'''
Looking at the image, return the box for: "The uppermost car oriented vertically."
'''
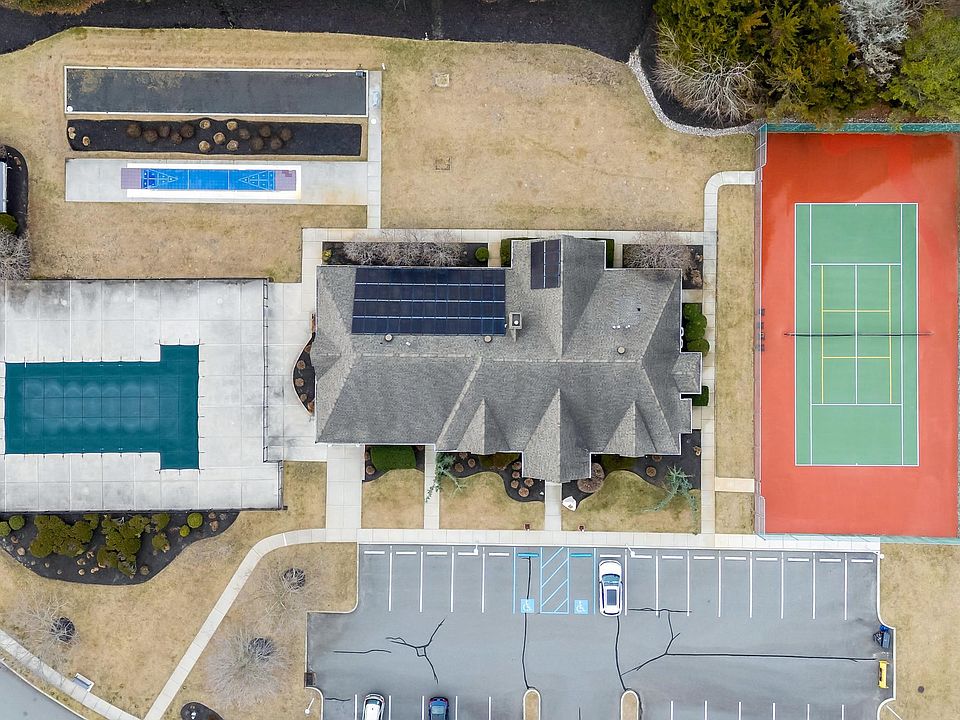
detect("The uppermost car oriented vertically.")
[598,560,623,615]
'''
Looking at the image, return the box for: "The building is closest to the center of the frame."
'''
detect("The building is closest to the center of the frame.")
[311,233,703,484]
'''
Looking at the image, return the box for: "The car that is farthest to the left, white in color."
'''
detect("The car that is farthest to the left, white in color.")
[362,689,385,720]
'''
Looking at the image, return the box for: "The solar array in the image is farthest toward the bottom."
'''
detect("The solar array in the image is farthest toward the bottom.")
[351,268,506,335]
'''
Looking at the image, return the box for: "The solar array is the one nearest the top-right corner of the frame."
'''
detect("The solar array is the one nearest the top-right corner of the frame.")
[532,239,561,290]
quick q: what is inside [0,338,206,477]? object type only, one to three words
swimming pool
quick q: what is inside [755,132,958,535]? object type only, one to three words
tennis court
